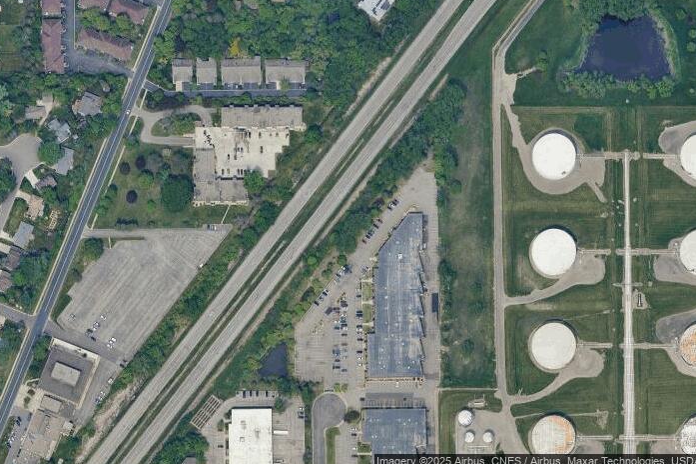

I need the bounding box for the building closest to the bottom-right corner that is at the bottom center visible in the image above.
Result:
[365,408,428,464]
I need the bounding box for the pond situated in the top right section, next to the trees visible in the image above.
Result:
[582,15,672,81]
